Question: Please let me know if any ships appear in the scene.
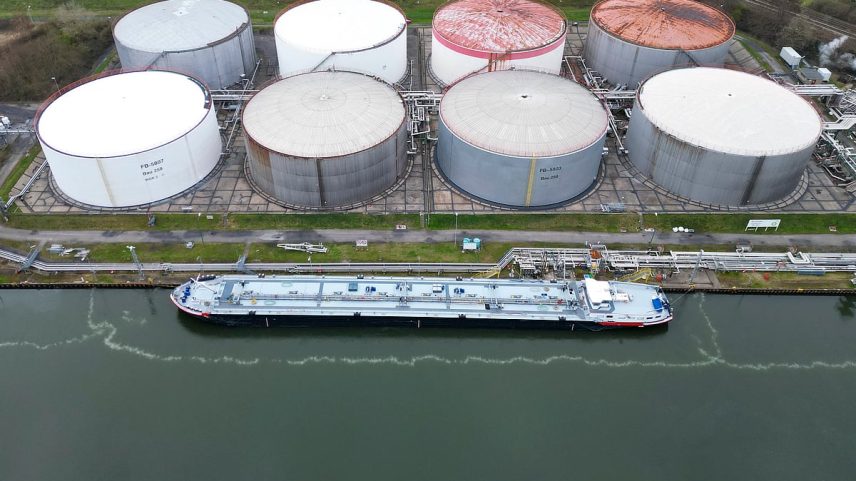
Yes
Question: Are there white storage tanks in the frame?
Yes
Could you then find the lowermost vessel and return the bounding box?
[169,271,674,332]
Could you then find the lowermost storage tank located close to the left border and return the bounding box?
[32,68,232,212]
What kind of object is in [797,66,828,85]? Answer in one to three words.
shed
